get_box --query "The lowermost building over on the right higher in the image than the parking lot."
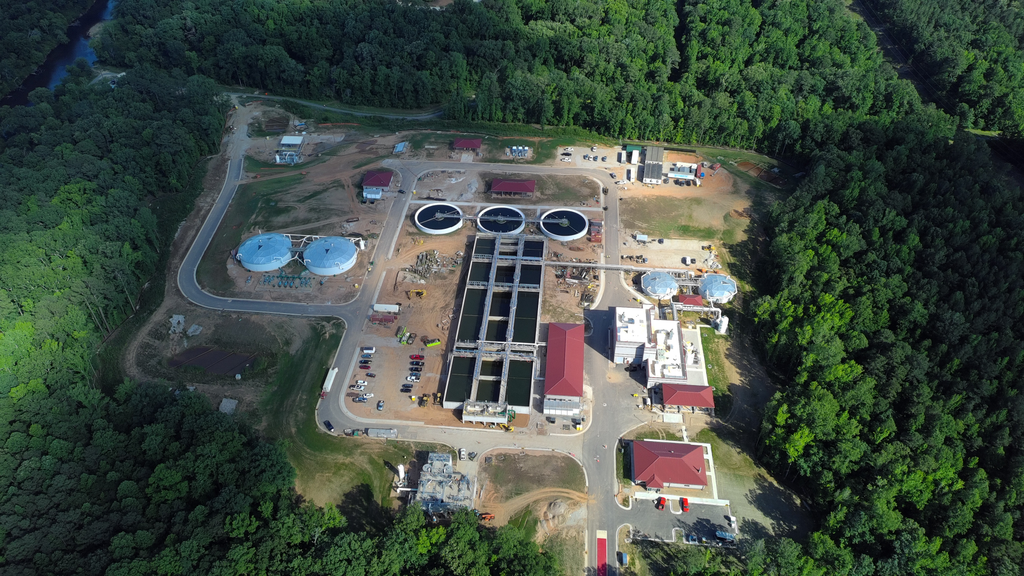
[633,441,707,493]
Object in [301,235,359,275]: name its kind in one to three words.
storage tank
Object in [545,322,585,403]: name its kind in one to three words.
building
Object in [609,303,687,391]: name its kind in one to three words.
building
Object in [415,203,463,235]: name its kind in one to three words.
storage tank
